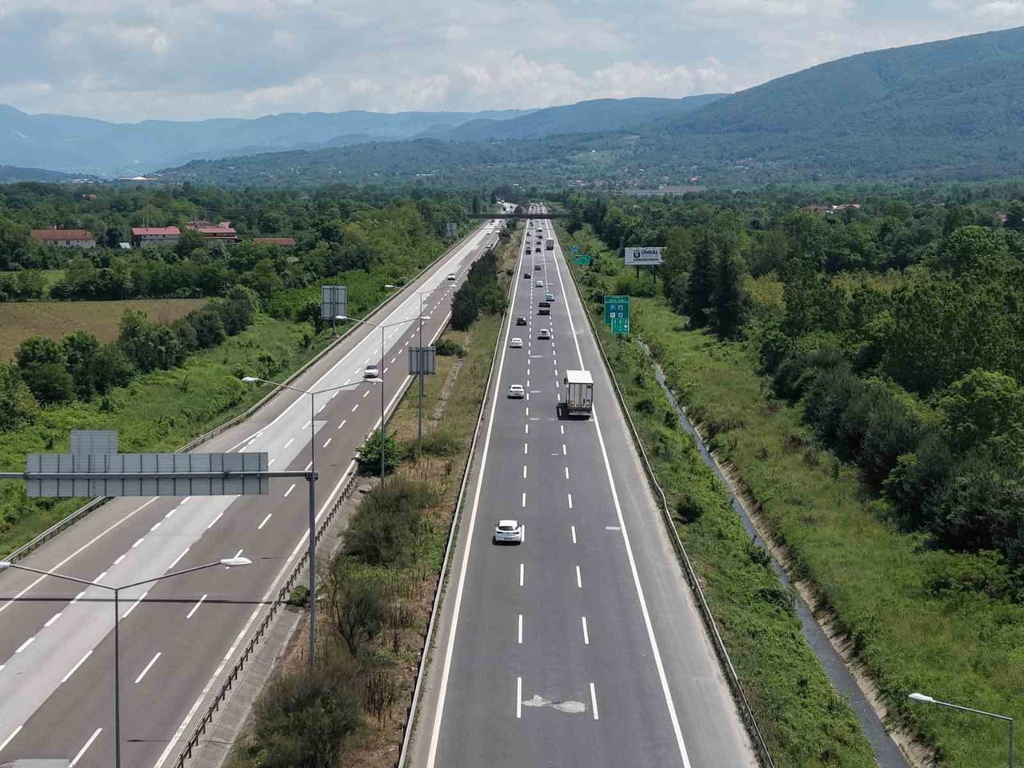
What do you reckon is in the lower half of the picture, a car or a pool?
car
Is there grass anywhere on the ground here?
Yes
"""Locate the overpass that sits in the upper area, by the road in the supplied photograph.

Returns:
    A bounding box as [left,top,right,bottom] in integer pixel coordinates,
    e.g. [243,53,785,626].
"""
[454,211,583,231]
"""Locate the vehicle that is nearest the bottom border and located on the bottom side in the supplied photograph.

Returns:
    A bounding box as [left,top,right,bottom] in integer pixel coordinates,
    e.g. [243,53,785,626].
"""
[494,515,522,540]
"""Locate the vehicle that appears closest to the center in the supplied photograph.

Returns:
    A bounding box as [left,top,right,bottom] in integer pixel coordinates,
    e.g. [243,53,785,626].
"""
[508,382,525,396]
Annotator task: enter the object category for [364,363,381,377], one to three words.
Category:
car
